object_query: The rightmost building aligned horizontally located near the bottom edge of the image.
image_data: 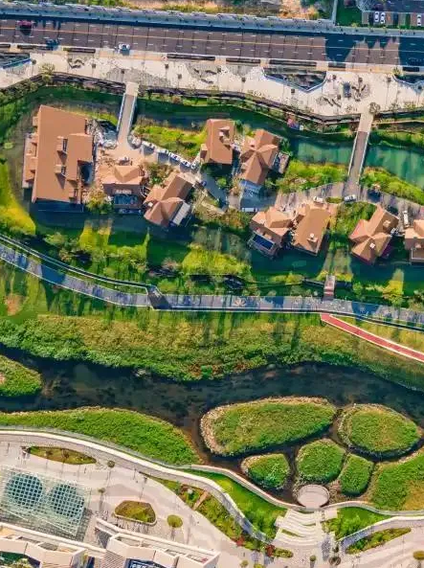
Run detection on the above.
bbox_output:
[95,515,225,568]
